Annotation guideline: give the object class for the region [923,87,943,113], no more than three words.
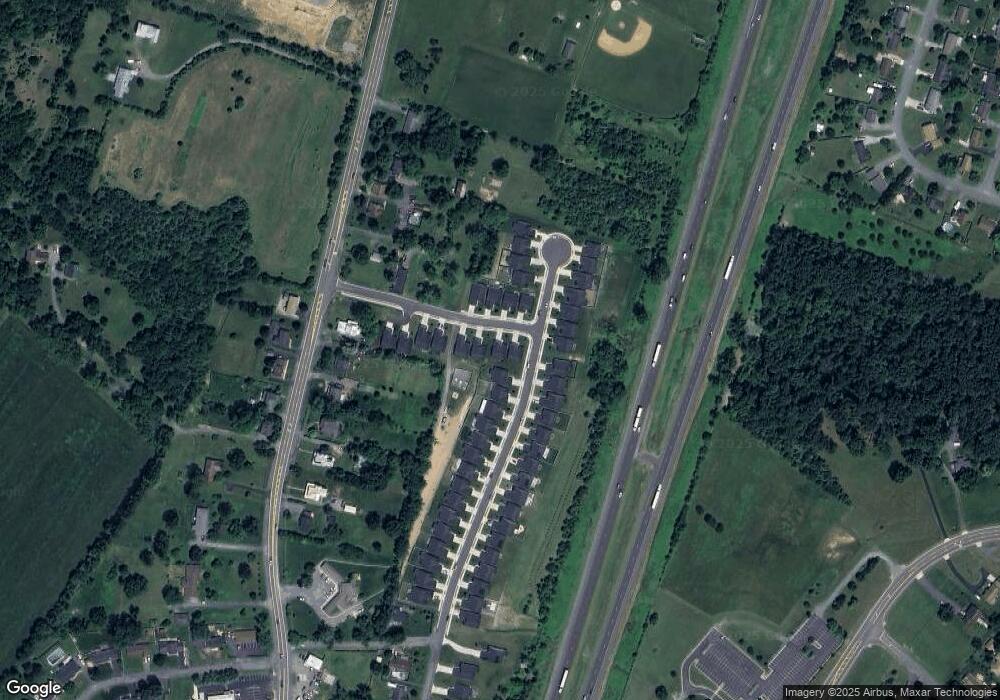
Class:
house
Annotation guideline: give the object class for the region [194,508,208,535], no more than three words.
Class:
house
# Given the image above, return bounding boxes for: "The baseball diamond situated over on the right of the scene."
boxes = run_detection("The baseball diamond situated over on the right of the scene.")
[598,0,651,57]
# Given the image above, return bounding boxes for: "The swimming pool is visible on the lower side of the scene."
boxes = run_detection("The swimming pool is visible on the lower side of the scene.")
[48,648,65,665]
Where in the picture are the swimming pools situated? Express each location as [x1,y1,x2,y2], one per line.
[942,223,953,233]
[48,648,65,665]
